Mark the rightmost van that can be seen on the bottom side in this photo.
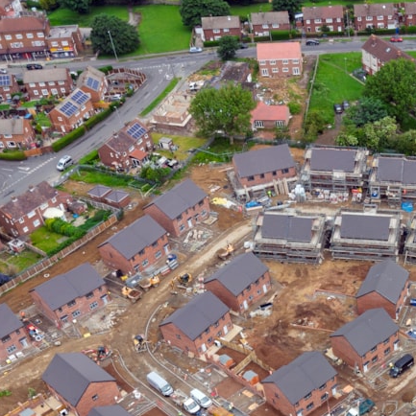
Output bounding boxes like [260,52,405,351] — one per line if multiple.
[388,347,416,377]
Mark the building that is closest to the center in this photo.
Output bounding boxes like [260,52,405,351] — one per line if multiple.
[145,176,210,238]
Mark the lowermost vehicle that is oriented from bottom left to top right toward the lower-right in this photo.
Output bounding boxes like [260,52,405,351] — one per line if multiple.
[346,396,375,416]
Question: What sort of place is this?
residential area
